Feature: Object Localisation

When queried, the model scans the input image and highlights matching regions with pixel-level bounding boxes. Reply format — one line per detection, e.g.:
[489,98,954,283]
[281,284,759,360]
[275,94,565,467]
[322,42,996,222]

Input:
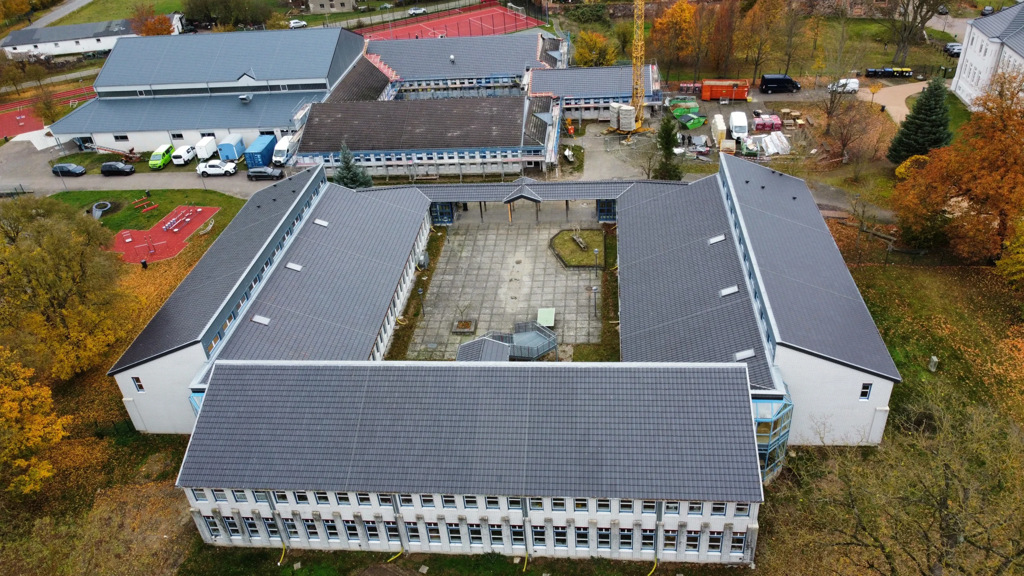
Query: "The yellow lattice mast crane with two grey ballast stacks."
[608,0,668,141]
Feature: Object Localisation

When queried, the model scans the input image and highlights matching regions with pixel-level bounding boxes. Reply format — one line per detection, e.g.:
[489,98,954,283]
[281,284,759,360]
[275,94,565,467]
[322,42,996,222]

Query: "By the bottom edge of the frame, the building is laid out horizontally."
[174,359,767,568]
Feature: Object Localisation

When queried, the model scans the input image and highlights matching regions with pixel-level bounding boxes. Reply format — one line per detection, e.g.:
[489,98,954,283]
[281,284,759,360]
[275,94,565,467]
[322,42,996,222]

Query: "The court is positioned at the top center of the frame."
[362,5,547,44]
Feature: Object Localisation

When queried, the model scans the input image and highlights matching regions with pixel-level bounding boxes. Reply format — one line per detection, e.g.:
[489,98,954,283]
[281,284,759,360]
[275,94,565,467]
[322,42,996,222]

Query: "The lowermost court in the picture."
[0,106,43,140]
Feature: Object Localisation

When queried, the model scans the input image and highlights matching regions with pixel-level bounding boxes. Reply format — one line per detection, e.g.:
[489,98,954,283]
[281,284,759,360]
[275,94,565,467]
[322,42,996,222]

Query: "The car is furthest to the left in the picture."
[46,159,87,175]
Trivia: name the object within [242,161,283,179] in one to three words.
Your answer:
car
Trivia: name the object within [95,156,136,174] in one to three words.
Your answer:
car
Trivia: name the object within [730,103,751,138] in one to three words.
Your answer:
vehicle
